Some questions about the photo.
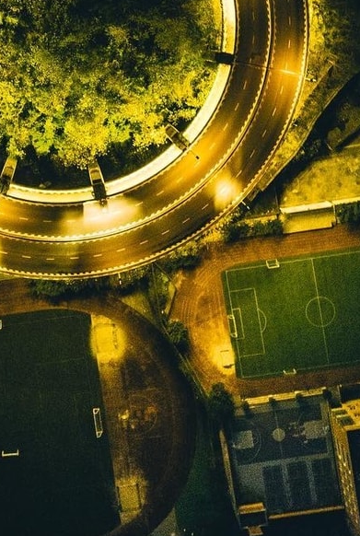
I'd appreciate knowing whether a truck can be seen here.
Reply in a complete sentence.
No, the picture doesn't show any truck.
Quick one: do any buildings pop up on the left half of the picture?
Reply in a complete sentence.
No, I can find no building on the left half of the picture.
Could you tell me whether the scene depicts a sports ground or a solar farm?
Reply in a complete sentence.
This image shows a sports ground.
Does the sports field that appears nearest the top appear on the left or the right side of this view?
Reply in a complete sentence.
The sports field that appears nearest the top is on the right side of the image.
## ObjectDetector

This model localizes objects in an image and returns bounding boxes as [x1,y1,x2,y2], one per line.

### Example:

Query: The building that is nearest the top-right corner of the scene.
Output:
[279,202,335,234]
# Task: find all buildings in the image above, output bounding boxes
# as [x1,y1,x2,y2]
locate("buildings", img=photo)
[279,202,335,234]
[223,387,357,532]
